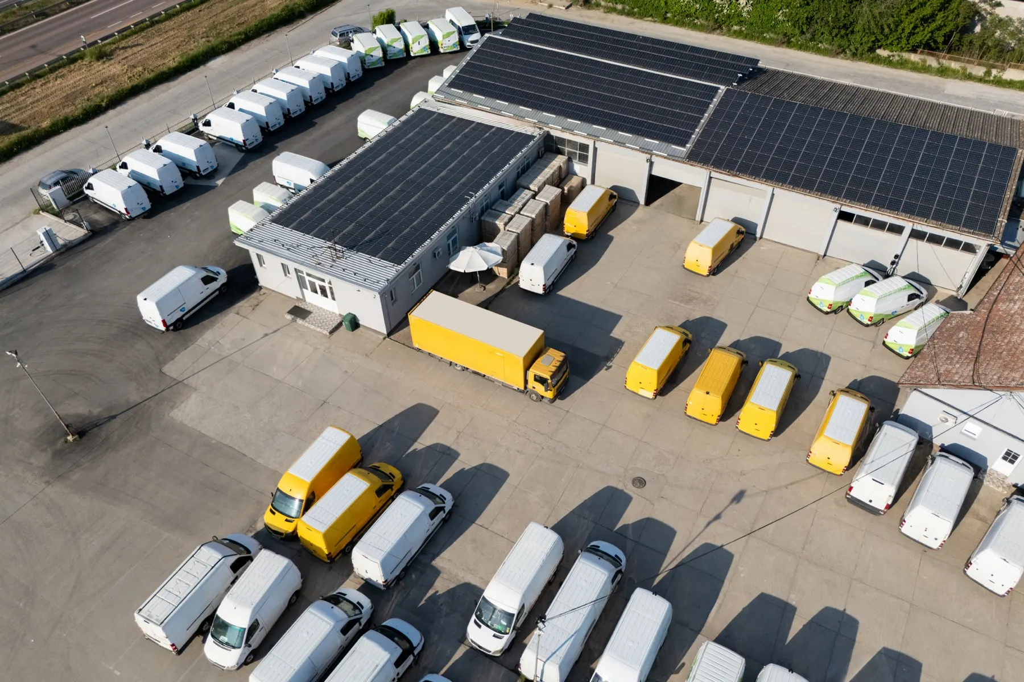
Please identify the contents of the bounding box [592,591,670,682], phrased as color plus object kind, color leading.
white van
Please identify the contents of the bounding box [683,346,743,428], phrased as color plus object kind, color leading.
yellow van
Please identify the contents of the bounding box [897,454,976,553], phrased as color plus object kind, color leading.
white van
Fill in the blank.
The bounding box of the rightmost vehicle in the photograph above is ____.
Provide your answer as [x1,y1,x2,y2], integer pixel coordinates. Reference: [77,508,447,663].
[962,494,1024,600]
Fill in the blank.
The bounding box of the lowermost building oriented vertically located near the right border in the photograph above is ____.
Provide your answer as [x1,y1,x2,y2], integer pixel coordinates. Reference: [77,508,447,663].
[897,241,1024,498]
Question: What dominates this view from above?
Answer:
paved ground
